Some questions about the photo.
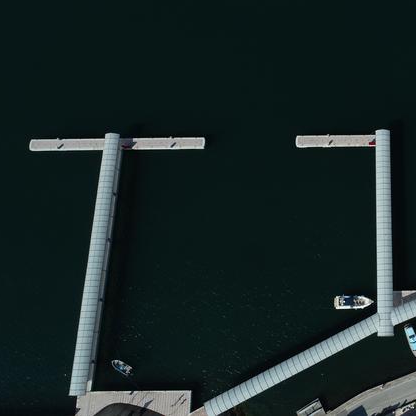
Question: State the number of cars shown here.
zero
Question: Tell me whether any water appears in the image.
Yes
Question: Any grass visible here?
No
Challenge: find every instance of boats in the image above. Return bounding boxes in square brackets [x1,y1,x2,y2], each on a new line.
[334,294,374,310]
[111,360,132,376]
[404,324,416,355]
